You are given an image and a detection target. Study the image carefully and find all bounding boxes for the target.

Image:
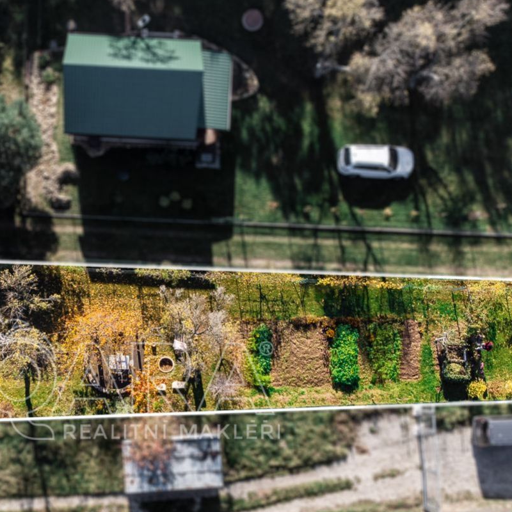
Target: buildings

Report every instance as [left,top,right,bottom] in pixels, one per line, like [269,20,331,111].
[63,32,235,154]
[122,433,224,495]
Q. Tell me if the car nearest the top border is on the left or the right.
right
